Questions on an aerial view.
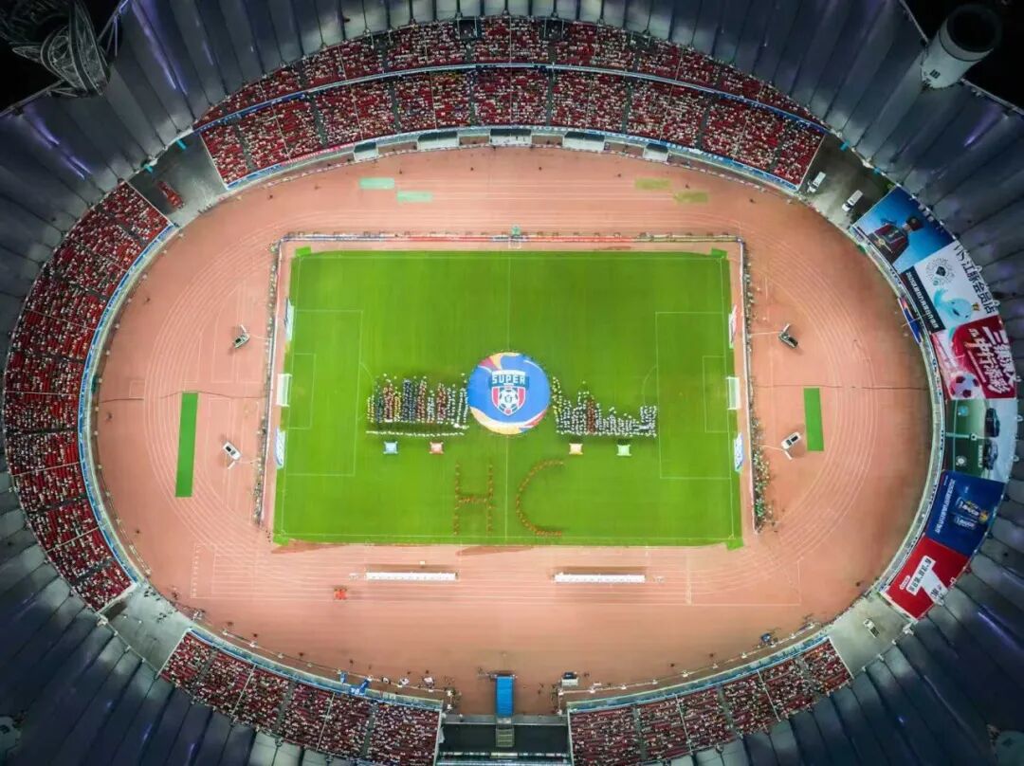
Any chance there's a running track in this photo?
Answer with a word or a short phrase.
Yes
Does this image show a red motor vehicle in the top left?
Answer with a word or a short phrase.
Yes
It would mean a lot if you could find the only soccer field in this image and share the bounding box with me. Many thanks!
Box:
[273,247,743,550]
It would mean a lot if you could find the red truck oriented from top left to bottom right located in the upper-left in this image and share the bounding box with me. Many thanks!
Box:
[153,175,181,208]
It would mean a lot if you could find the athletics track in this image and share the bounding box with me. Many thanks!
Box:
[93,136,933,714]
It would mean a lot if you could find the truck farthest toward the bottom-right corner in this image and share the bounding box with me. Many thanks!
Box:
[862,617,885,640]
